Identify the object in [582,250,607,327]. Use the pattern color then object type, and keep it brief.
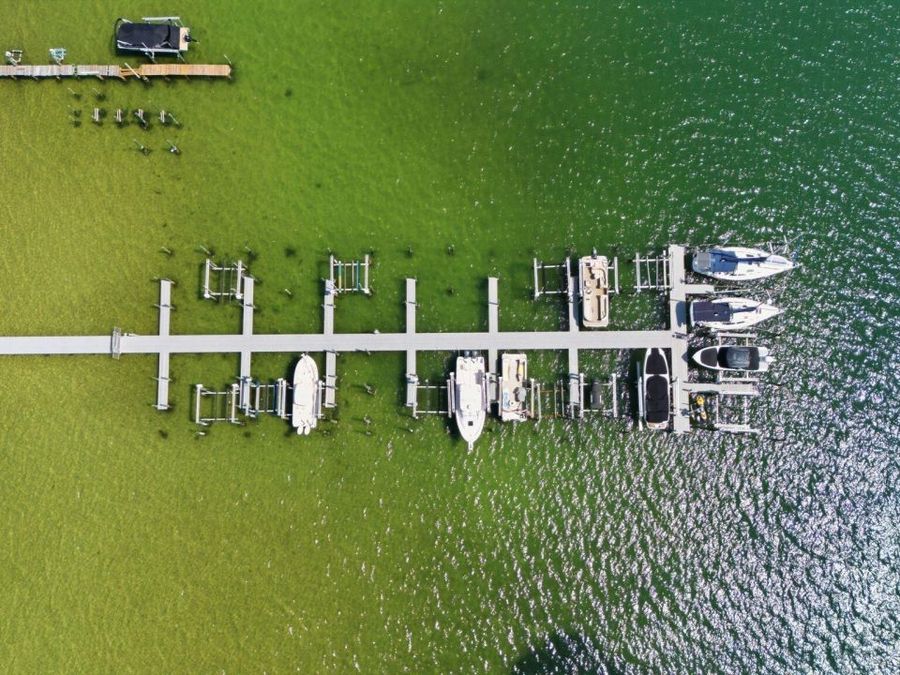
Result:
white boat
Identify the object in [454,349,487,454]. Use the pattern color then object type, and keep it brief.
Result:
white boat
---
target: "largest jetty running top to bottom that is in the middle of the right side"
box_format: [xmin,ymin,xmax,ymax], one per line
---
[667,245,693,432]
